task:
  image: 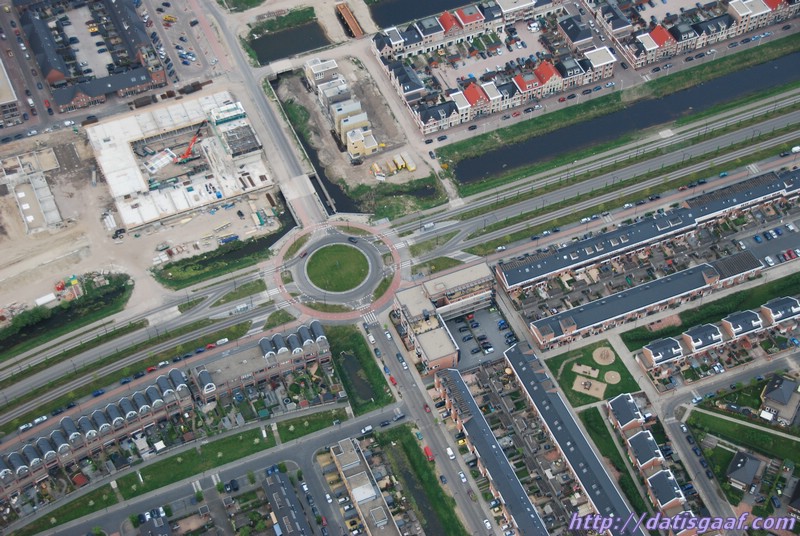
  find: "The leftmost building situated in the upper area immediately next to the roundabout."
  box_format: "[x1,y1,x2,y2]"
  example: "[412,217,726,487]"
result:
[85,91,273,231]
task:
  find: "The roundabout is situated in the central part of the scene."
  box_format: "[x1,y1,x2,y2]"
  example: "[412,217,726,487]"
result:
[275,222,401,319]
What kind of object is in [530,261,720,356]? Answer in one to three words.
building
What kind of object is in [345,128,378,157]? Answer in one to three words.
house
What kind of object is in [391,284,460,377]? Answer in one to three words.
building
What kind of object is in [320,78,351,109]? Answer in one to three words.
house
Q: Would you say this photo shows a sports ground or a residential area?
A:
residential area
